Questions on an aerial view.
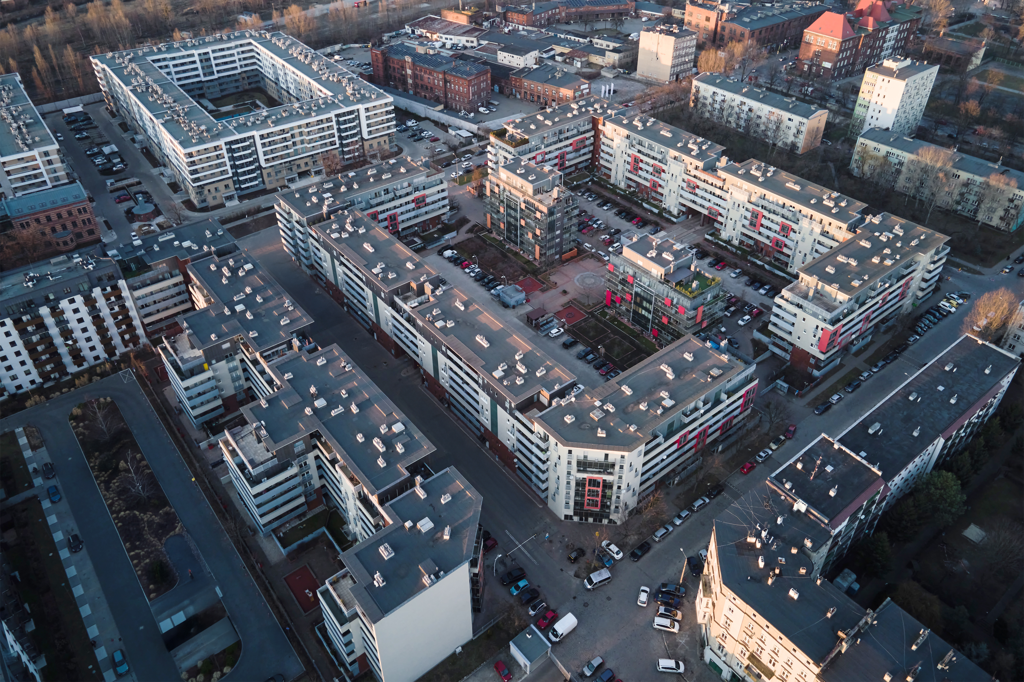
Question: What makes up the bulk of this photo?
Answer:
buildings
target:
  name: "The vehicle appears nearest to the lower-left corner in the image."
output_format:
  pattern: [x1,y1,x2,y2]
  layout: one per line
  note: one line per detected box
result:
[112,650,131,677]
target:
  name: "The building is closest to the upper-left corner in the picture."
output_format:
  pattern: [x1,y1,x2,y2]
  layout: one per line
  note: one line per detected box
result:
[0,72,68,192]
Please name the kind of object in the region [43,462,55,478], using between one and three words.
vehicle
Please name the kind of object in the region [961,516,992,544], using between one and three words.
shed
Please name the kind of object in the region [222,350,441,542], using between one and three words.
building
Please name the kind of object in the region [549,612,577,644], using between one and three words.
van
